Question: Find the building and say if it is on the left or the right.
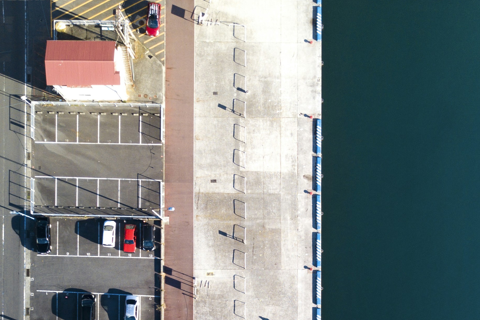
left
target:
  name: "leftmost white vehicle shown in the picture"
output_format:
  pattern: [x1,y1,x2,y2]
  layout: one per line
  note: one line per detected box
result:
[100,219,115,247]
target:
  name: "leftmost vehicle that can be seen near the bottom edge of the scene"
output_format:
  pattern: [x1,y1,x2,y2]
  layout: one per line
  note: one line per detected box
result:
[78,293,96,320]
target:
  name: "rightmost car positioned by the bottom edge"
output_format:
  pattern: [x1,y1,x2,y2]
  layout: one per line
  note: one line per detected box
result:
[122,295,139,320]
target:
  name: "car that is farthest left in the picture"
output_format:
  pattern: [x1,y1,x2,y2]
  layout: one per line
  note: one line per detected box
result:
[33,216,50,253]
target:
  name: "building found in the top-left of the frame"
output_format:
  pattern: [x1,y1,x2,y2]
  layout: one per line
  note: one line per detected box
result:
[45,41,133,101]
